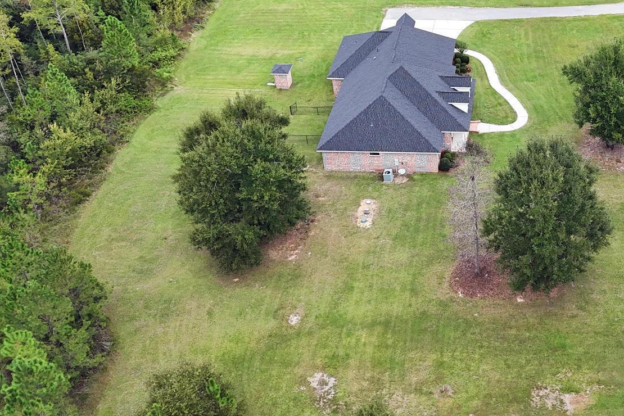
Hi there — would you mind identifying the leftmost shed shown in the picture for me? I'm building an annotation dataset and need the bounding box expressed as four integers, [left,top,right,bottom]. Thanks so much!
[270,64,293,89]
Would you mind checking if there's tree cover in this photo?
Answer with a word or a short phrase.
Yes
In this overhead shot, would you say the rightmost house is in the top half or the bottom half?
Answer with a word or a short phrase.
top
